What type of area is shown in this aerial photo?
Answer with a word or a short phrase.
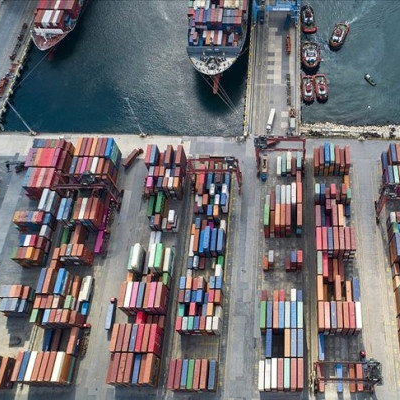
port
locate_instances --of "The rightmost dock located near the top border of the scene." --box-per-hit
[242,0,304,136]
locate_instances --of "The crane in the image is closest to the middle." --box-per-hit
[185,155,242,193]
